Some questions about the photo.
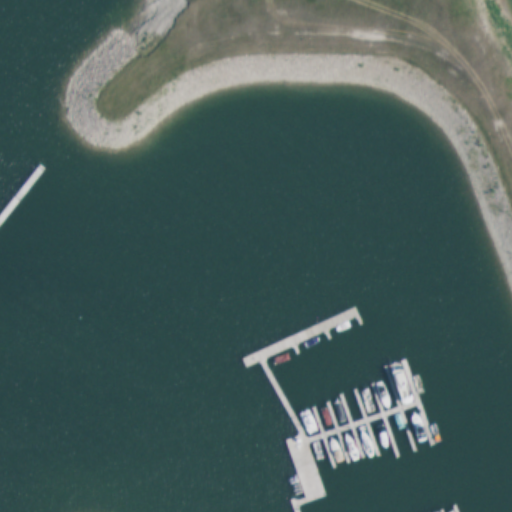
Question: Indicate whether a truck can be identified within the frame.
No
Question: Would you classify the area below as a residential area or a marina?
marina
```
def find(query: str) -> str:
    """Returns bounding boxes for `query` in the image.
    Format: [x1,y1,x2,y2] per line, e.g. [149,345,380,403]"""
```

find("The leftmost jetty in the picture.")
[0,164,46,226]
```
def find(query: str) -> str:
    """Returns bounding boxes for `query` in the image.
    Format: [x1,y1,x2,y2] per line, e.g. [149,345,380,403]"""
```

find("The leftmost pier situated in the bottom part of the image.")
[243,306,436,512]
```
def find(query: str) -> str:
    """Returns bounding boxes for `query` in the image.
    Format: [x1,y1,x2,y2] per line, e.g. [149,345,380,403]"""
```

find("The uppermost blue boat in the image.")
[304,334,321,346]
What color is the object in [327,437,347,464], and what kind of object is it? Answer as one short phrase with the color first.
white boat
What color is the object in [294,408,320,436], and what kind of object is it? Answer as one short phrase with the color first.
white boat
